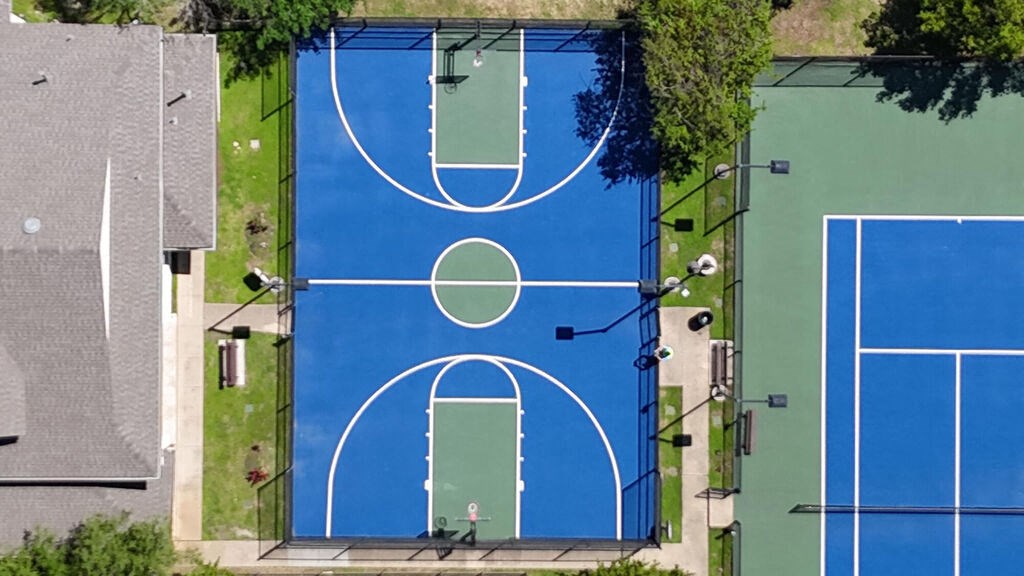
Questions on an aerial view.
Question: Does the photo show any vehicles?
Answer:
No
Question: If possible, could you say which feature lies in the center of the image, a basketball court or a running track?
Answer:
basketball court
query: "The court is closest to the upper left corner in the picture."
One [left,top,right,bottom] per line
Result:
[293,28,658,539]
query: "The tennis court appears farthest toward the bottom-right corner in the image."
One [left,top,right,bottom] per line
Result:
[731,68,1024,576]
